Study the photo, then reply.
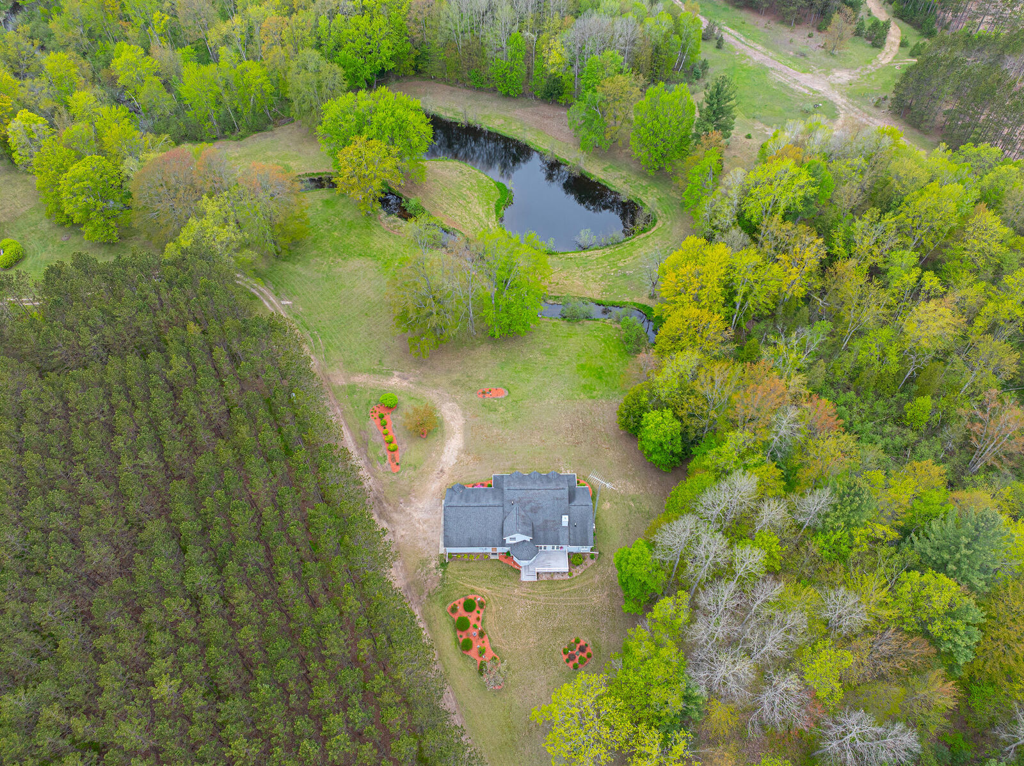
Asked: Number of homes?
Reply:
1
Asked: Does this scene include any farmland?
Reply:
No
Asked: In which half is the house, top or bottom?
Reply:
bottom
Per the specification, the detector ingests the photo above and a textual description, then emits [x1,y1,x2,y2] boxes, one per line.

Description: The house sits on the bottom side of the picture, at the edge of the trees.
[443,469,598,581]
